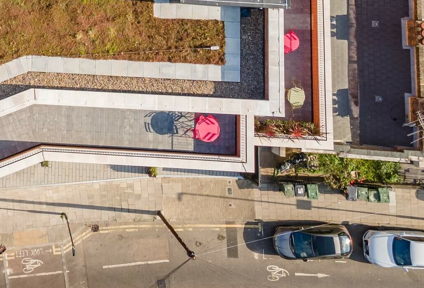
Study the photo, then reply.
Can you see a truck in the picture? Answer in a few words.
No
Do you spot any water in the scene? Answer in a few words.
No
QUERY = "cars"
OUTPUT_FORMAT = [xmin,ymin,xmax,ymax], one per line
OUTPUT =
[272,221,356,266]
[361,225,424,272]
